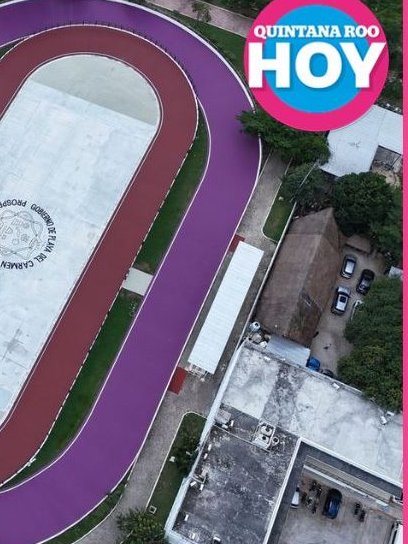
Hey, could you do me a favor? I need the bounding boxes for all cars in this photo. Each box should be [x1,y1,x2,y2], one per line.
[355,270,374,295]
[324,487,344,521]
[306,357,317,371]
[339,255,358,281]
[330,288,349,316]
[288,483,307,511]
[322,369,336,381]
